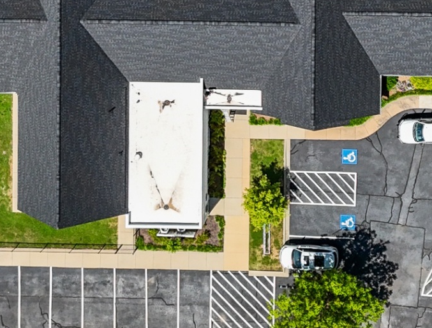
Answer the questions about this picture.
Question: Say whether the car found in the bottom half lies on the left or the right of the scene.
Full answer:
It is on the right.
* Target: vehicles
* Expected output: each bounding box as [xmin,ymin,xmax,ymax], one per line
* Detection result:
[397,115,432,144]
[281,241,339,272]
